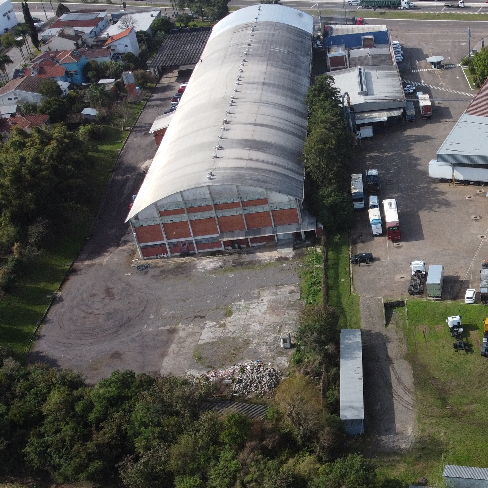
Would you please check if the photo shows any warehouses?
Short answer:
Yes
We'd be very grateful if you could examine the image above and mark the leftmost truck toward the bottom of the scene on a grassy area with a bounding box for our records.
[443,314,471,354]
